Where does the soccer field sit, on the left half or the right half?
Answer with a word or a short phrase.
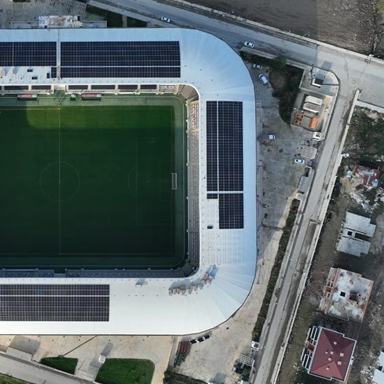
left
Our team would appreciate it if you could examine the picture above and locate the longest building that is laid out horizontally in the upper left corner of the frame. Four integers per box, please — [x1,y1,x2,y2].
[38,14,83,27]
